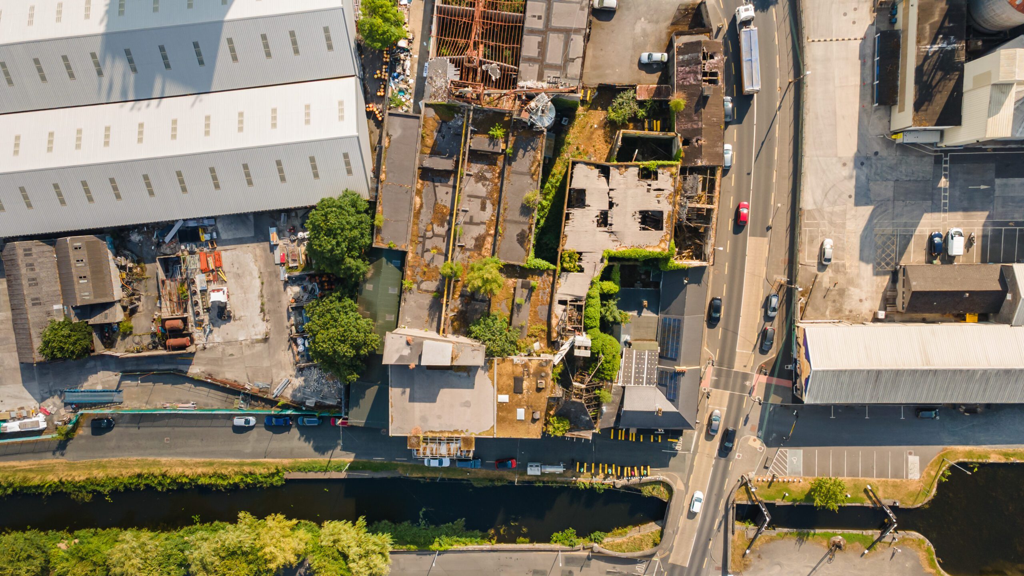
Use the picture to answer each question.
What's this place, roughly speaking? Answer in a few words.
industrial area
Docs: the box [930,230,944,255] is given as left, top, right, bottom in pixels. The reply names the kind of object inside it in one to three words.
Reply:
car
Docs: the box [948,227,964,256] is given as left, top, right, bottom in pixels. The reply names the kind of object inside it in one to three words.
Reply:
vehicle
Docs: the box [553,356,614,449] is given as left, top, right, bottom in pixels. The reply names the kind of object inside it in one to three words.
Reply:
house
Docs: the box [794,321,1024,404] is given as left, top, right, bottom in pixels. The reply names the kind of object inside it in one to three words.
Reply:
shed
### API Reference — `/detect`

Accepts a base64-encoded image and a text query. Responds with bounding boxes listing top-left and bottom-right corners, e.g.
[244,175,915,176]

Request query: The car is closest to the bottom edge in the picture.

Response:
[689,490,704,515]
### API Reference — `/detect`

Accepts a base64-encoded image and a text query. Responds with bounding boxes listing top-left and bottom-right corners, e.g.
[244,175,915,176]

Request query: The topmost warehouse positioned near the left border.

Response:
[0,0,372,240]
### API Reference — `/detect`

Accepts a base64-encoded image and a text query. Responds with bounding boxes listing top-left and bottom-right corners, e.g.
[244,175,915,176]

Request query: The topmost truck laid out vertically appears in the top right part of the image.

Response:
[734,0,761,95]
